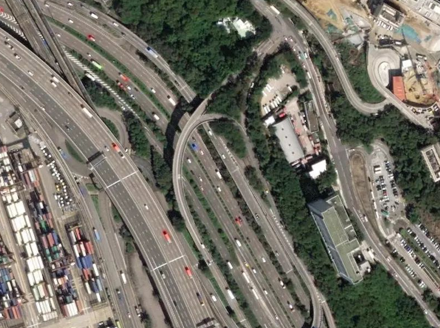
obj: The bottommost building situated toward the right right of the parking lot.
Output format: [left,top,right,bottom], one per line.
[420,144,440,182]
